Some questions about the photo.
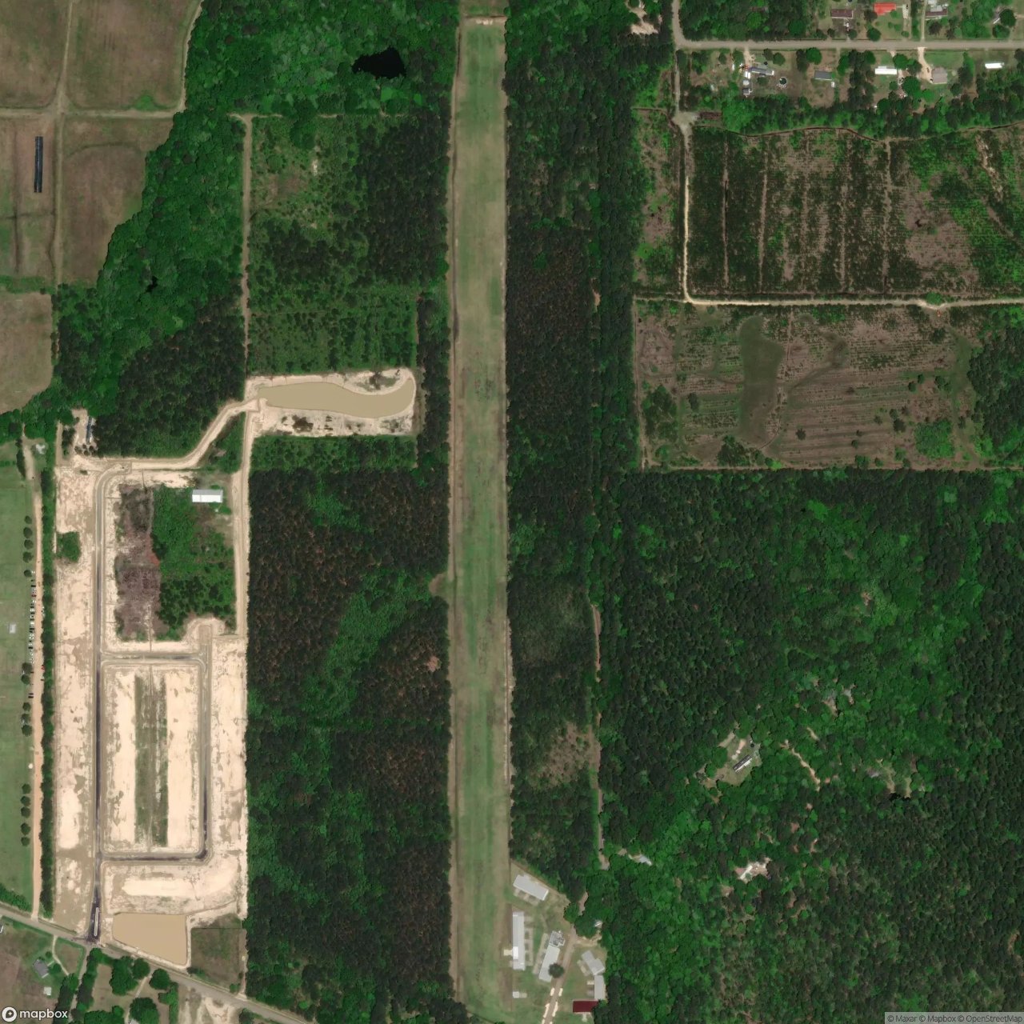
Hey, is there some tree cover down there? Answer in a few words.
Yes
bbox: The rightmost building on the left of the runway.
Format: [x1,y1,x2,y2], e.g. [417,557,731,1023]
[191,489,222,503]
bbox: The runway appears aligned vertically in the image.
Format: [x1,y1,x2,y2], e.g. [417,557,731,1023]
[446,21,510,1010]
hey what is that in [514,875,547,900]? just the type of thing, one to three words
building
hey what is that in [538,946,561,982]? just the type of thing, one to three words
building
